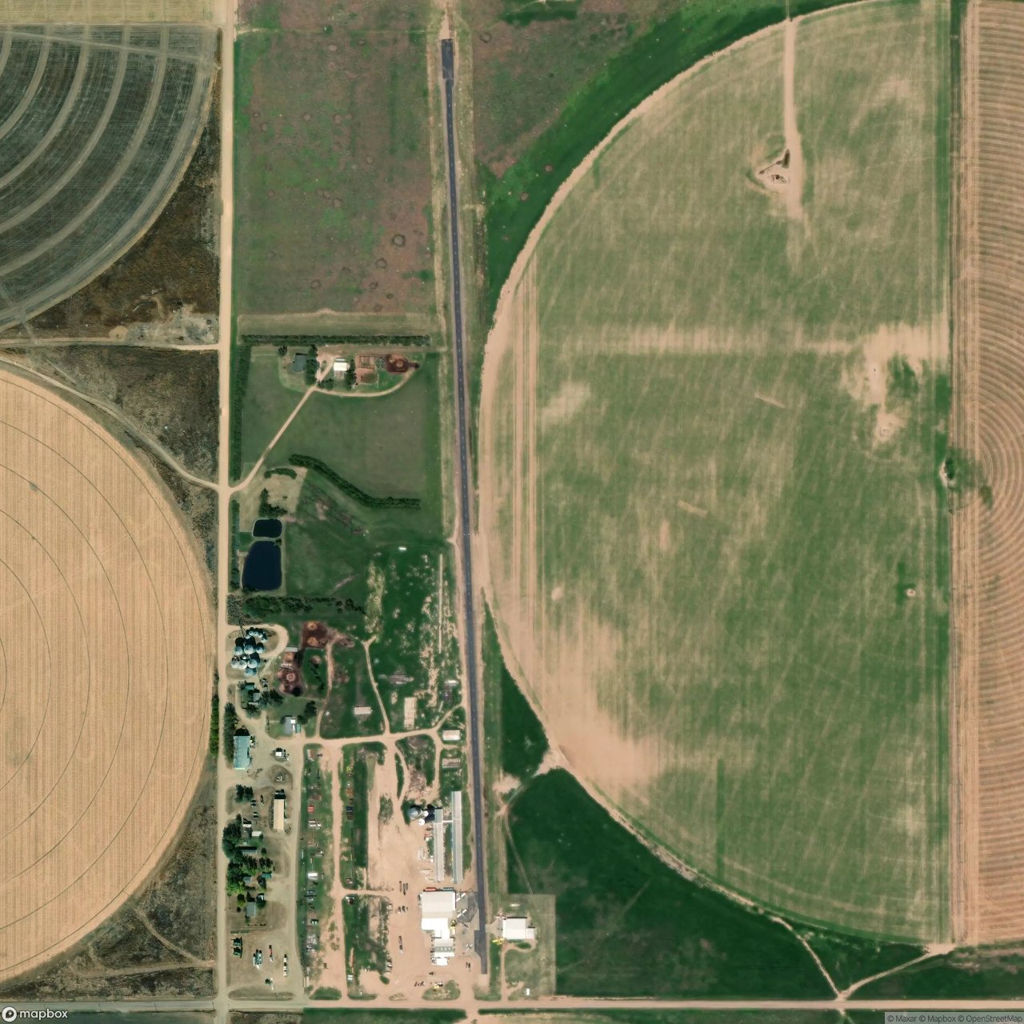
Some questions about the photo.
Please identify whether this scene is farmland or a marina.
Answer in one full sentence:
This looks like farmland.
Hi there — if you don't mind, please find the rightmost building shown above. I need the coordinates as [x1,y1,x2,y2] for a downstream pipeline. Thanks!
[503,919,534,939]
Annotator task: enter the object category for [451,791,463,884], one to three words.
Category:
house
